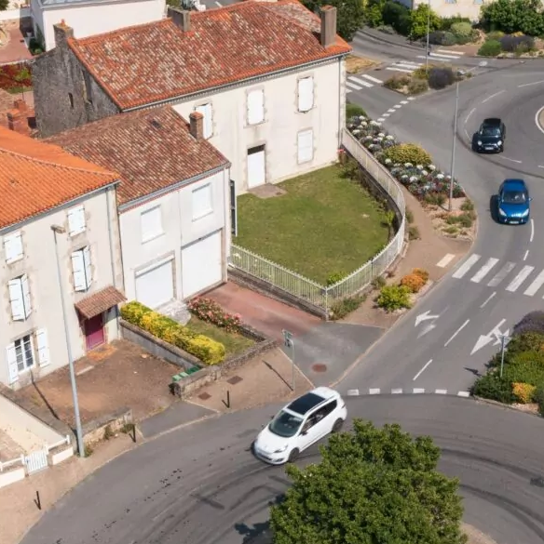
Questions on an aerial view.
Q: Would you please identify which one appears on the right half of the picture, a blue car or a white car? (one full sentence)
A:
The one visible on the right half of the picture is a blue car.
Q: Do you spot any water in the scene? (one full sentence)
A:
No, no water is visible.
